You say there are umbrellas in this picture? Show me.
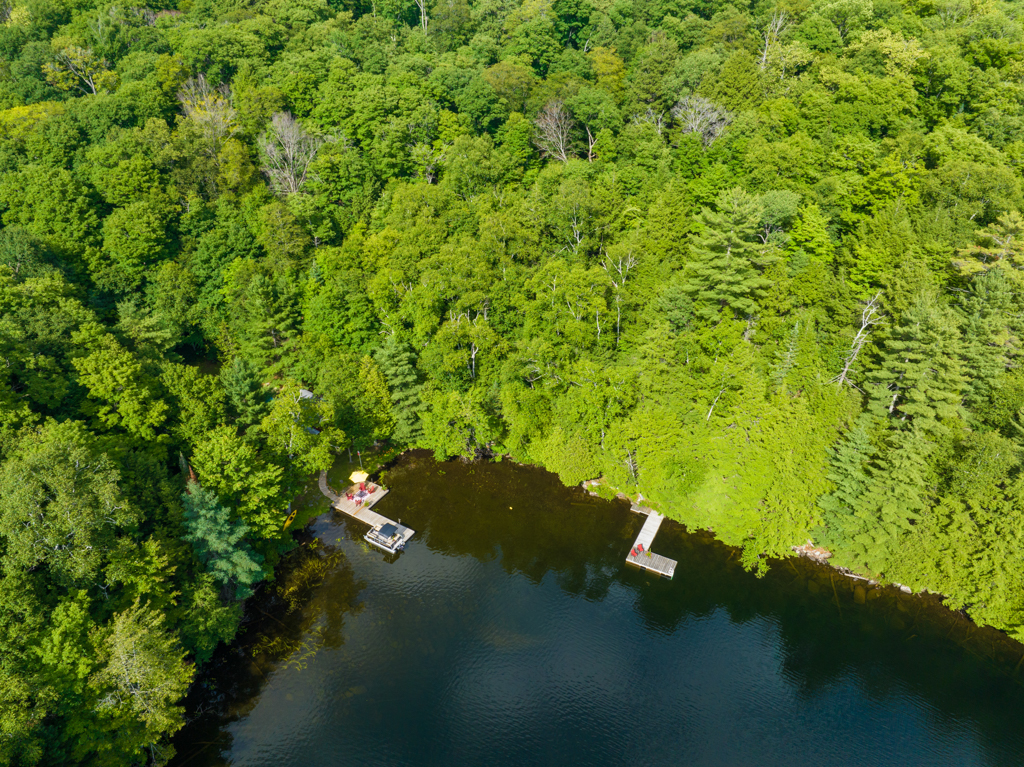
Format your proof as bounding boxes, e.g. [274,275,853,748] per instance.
[349,471,368,488]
